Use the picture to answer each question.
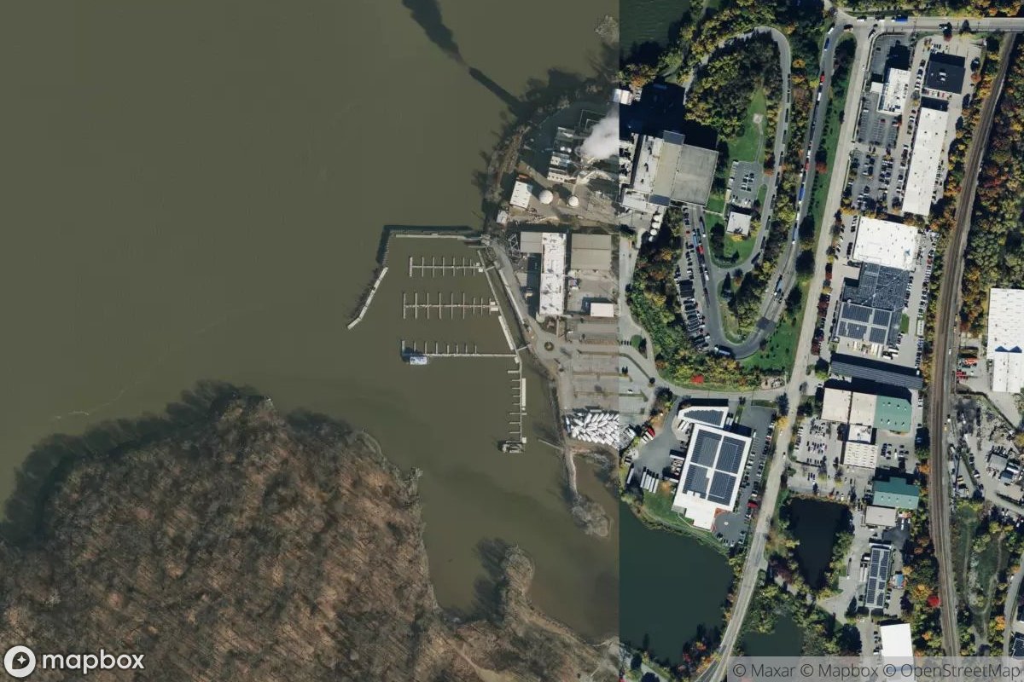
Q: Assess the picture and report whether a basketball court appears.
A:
No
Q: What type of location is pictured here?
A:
port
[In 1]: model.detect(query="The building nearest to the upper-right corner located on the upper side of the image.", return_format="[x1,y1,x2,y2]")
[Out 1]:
[925,60,966,94]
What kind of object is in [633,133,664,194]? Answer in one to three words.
building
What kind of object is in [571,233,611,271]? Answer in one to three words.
shed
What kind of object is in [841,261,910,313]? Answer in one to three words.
building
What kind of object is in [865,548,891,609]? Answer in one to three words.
shed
